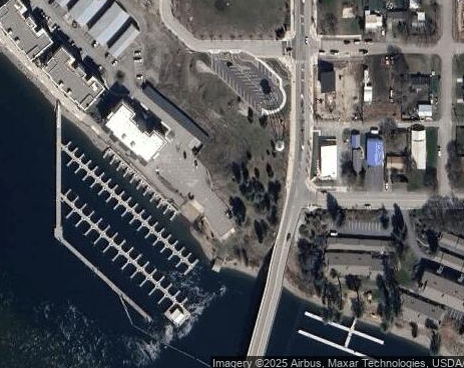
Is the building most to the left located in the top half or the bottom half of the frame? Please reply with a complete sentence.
Seen from above, the building most to the left lies in the top half of the view.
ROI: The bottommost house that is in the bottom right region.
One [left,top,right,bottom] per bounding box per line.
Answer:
[398,293,445,330]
